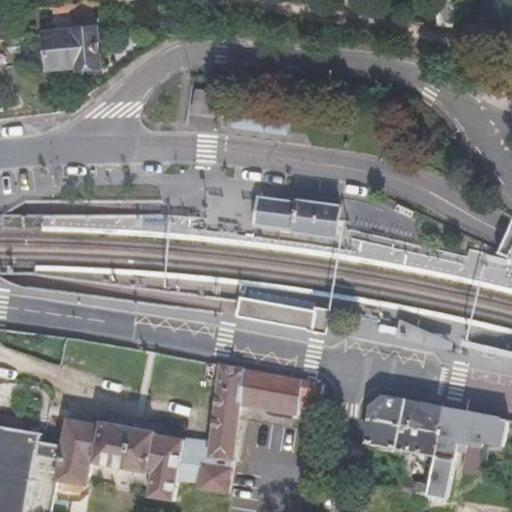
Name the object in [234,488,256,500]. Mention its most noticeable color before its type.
white vehicle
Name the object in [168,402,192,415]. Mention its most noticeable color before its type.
white vehicle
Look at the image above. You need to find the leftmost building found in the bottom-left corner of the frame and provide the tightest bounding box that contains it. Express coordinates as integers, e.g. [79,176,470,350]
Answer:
[0,427,47,512]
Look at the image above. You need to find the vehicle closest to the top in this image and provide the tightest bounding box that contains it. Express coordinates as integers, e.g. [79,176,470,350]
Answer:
[2,126,24,138]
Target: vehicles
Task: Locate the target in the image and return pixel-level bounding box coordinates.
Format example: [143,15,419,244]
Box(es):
[258,424,268,447]
[343,184,367,197]
[65,166,88,177]
[264,174,285,185]
[234,488,256,500]
[242,170,262,182]
[143,164,162,174]
[2,126,24,138]
[20,173,30,194]
[168,402,192,415]
[282,429,294,452]
[0,369,21,380]
[1,175,12,196]
[234,476,256,488]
